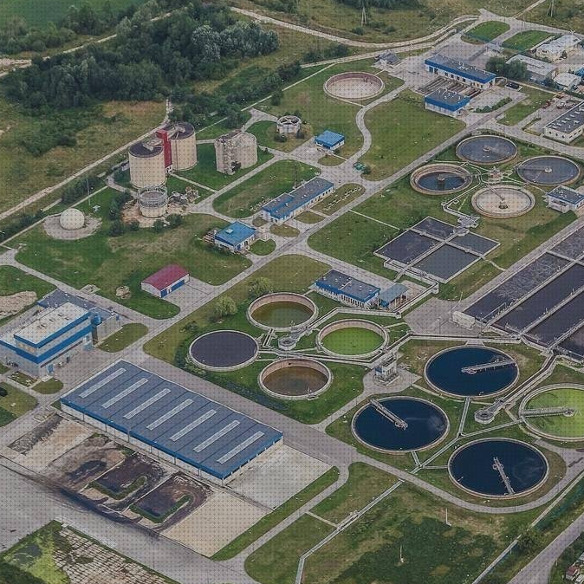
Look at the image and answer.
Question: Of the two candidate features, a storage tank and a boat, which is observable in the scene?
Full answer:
This aerial view contains a storage tank.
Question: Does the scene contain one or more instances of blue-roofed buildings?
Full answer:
Yes, a blue-roofed building appears in the view.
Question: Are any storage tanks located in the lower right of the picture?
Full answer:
Yes, in the lower right of the picture there is a storage tank.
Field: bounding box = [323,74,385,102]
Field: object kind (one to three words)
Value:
storage tank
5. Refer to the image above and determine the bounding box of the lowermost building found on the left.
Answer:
[68,356,285,488]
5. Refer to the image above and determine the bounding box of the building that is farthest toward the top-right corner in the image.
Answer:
[531,35,582,64]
